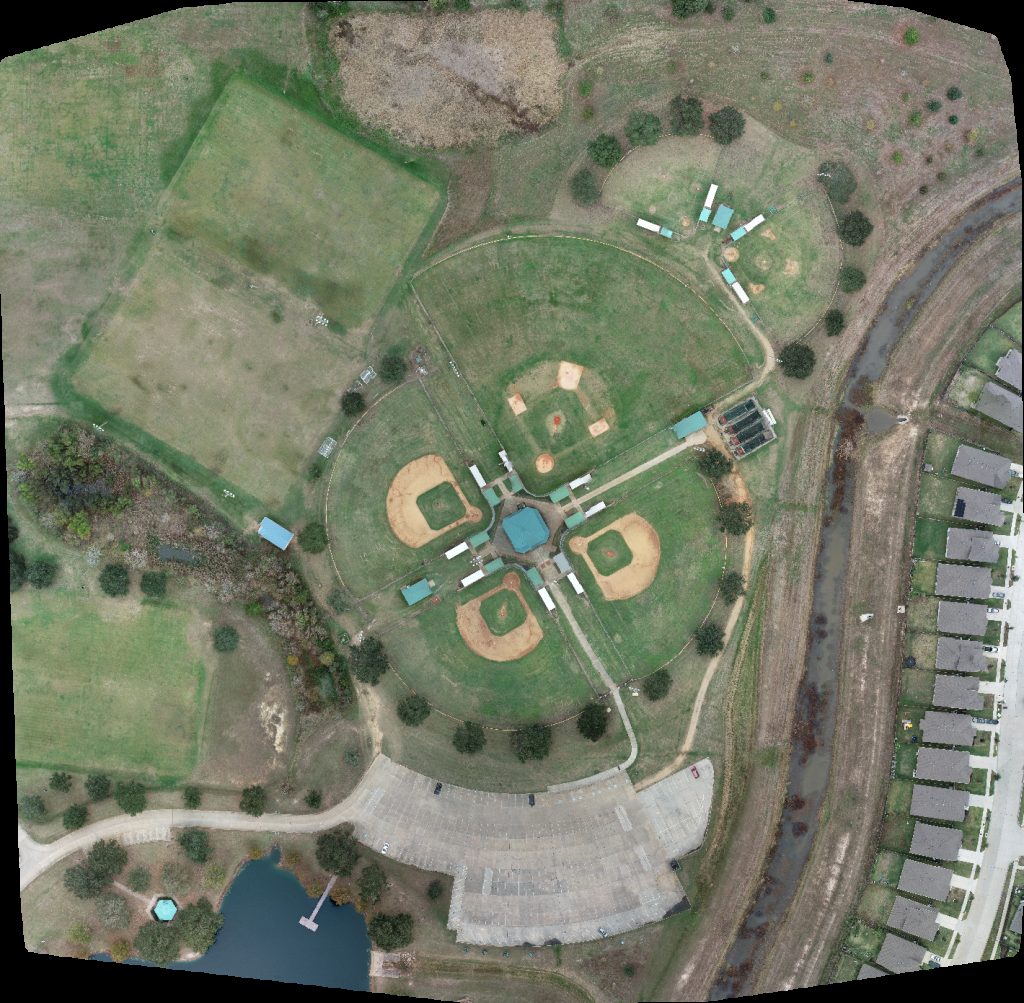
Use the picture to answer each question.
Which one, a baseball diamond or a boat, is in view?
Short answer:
baseball diamond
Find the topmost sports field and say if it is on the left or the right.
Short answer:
left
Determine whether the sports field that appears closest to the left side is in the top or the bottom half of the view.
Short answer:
bottom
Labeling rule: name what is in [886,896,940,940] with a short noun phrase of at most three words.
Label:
house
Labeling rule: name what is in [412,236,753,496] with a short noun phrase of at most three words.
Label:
baseball field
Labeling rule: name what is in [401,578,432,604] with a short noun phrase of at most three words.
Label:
building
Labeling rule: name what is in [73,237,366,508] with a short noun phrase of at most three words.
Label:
sports field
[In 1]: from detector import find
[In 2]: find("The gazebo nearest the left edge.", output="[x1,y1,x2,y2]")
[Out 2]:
[151,896,180,921]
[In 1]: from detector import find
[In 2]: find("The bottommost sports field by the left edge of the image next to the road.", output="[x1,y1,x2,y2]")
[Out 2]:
[0,594,206,778]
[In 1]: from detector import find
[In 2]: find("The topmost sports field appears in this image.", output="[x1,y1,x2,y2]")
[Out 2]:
[158,79,442,335]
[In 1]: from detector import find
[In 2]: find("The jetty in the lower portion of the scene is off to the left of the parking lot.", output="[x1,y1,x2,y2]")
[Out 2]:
[301,876,335,933]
